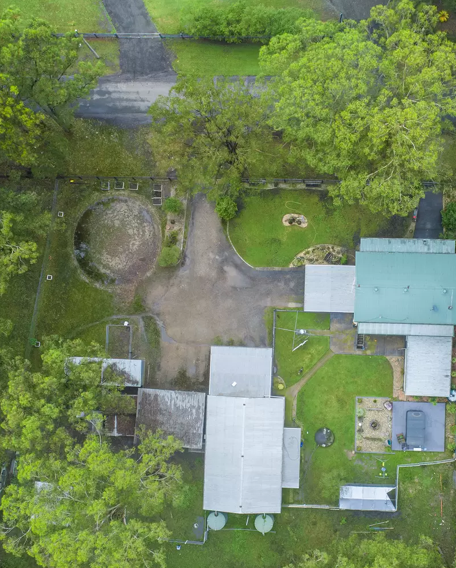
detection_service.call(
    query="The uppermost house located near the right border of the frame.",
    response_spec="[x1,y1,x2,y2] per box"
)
[354,239,456,339]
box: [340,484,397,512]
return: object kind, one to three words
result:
shed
